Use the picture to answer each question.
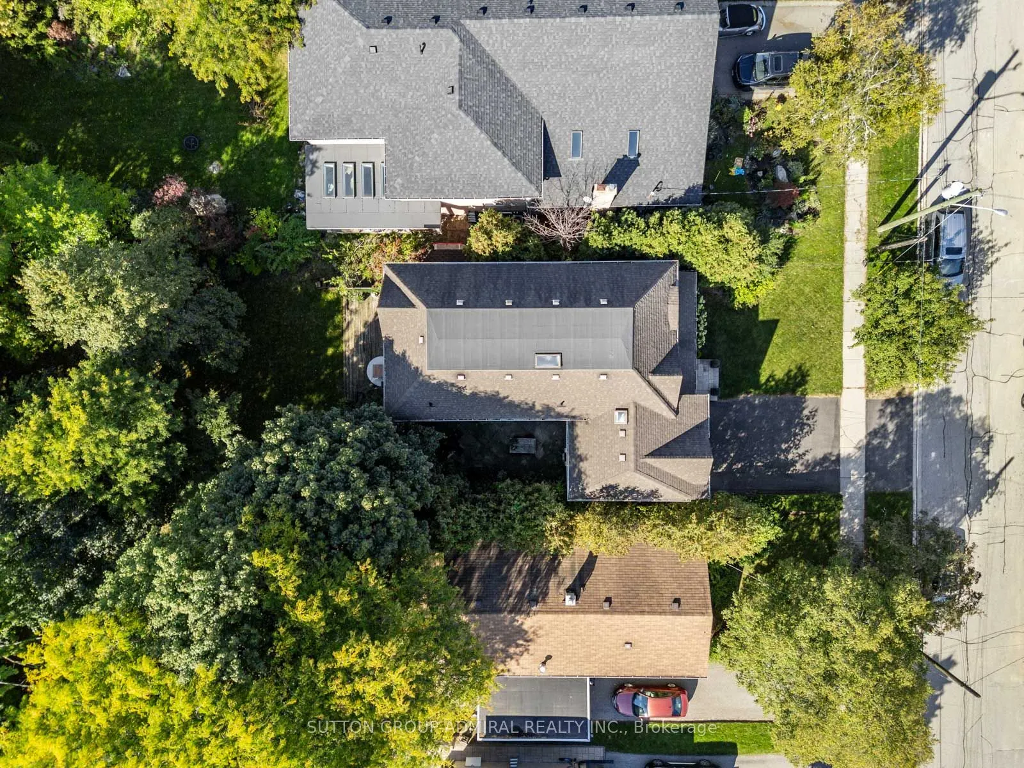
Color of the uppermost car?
black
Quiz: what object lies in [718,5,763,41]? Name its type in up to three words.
car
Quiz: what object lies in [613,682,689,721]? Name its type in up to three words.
car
